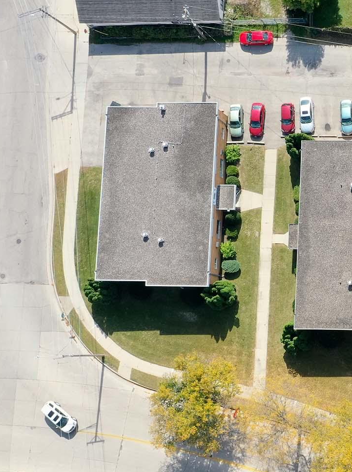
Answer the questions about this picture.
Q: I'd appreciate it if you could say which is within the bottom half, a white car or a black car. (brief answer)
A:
white car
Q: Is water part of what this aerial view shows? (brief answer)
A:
No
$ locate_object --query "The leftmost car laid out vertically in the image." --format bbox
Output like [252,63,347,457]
[227,103,247,139]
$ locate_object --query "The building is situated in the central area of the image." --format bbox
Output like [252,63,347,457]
[95,102,242,287]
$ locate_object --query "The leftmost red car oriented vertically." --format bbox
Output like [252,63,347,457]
[247,102,266,139]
